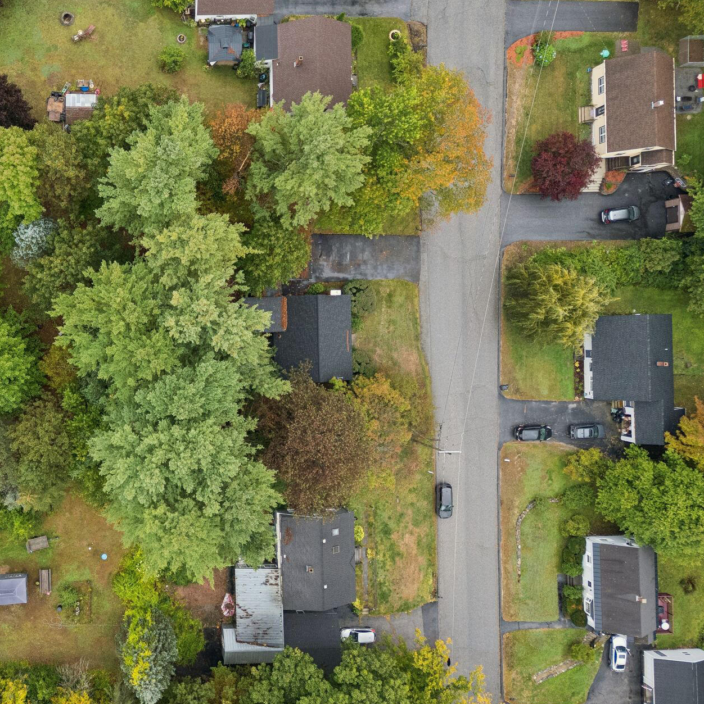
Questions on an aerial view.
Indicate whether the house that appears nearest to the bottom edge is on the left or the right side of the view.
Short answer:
right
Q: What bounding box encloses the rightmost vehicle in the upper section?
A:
[597,206,639,224]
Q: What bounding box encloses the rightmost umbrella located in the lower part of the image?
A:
[222,595,234,615]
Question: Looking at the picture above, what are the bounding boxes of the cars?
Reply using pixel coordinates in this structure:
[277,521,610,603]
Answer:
[341,625,376,643]
[566,423,603,440]
[512,424,550,442]
[597,206,639,224]
[434,481,453,518]
[608,633,628,673]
